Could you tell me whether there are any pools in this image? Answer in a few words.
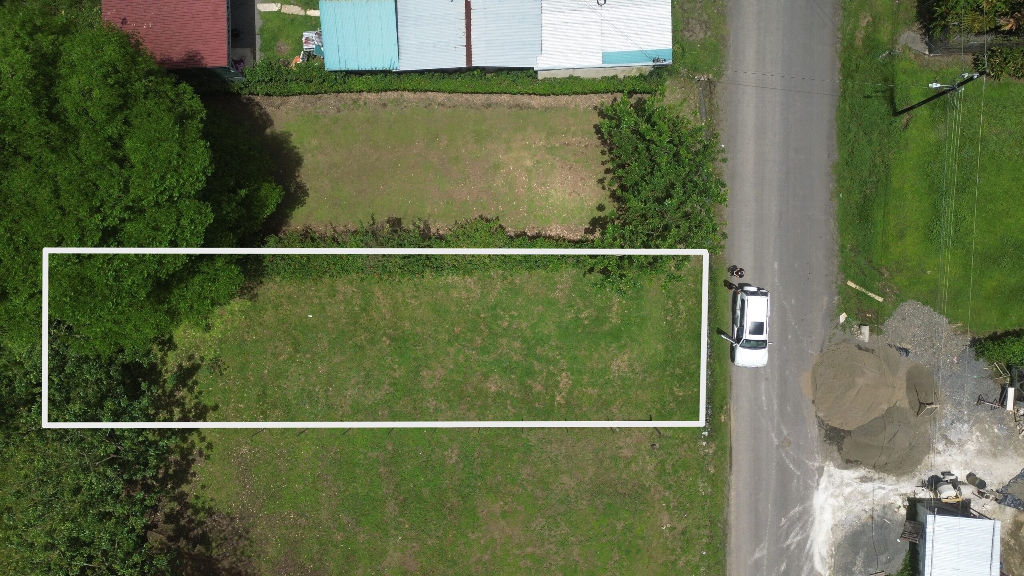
No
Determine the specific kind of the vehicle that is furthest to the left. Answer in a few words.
car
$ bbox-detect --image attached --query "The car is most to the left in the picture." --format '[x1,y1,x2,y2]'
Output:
[720,289,774,368]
